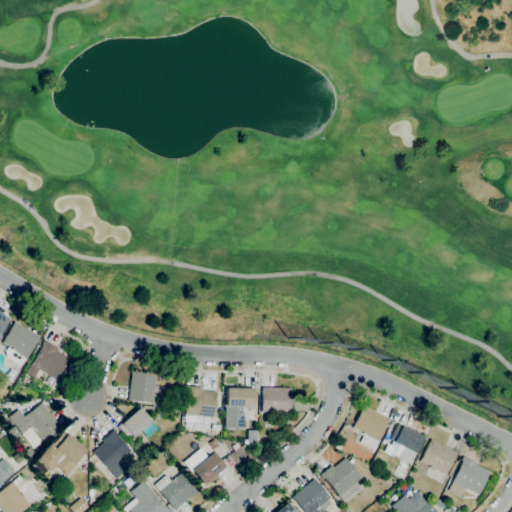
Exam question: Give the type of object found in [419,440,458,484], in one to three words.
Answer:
house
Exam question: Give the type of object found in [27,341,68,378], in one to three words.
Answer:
house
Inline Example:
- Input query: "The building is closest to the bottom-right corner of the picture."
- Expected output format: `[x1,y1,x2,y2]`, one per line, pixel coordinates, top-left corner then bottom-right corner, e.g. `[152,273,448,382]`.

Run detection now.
[453,456,492,499]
